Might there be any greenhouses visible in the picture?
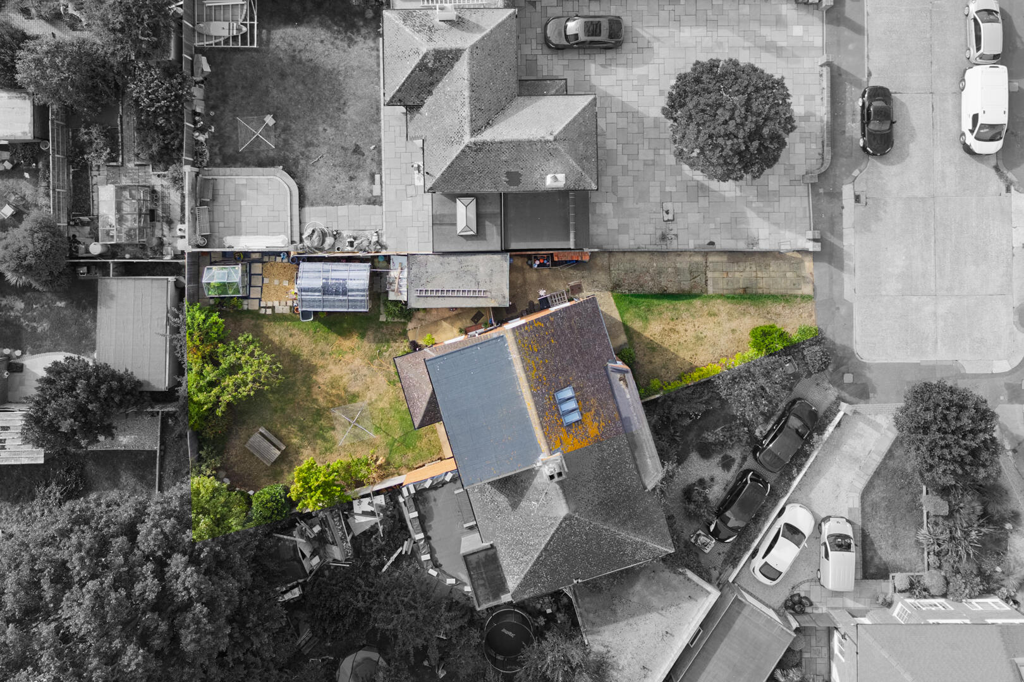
Yes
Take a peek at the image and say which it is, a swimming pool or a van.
van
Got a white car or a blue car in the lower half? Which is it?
white car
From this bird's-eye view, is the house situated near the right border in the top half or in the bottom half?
bottom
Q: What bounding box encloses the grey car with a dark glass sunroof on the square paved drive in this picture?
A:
[543,10,625,54]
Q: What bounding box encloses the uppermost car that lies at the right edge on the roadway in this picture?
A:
[954,0,1002,68]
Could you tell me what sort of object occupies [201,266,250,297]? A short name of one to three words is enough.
greenhouse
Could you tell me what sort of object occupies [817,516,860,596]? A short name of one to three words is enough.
van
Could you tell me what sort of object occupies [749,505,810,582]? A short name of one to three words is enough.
car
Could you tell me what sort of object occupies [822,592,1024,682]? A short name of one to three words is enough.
house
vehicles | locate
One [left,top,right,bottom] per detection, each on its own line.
[817,516,860,596]
[853,84,895,159]
[955,60,1009,156]
[954,0,1002,68]
[753,400,816,474]
[707,468,771,539]
[749,505,810,582]
[543,10,625,54]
